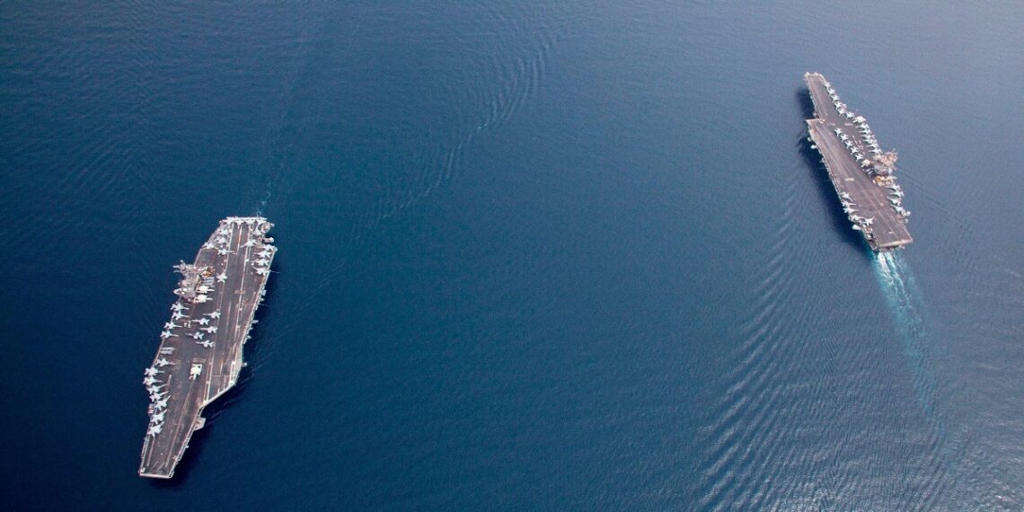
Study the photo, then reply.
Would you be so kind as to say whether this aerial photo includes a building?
No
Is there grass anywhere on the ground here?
No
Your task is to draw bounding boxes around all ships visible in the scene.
[137,216,280,481]
[805,75,914,248]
